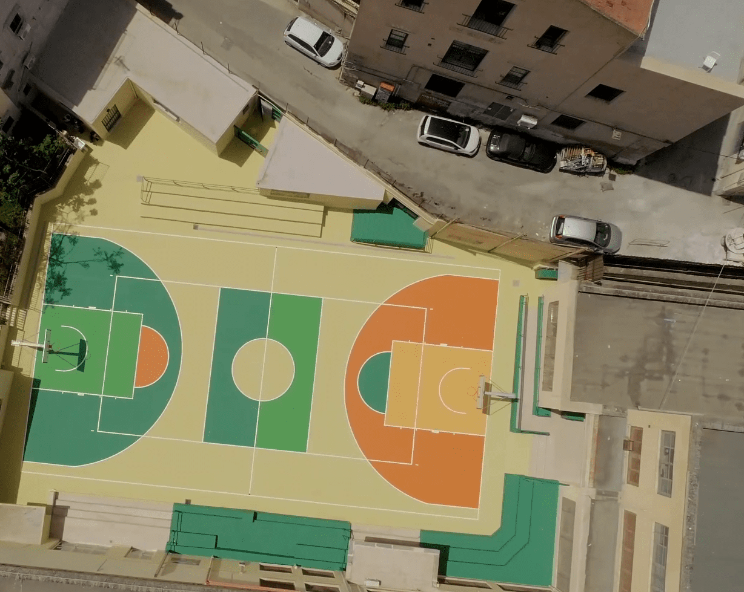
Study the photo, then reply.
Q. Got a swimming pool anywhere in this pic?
No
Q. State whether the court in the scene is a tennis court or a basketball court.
basketball court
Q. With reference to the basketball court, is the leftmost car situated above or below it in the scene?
above it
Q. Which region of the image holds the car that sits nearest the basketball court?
right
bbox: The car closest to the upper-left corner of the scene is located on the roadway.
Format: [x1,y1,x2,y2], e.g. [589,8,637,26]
[283,18,344,69]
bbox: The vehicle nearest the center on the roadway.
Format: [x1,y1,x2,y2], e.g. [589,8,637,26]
[417,118,480,158]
